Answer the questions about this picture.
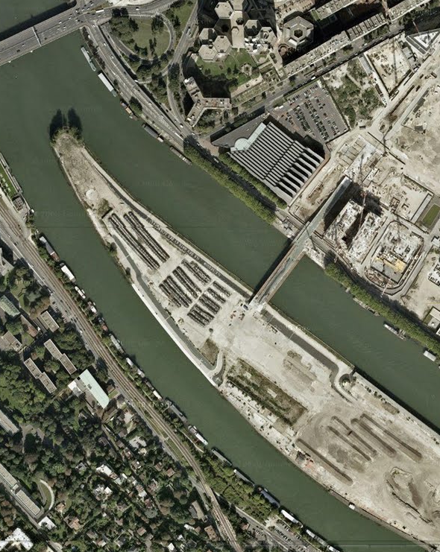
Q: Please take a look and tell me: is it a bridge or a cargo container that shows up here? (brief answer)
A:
bridge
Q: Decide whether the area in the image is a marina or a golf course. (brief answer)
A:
marina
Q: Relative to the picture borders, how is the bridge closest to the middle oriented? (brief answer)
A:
diagonally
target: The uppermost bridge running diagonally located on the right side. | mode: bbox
[251,177,352,307]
